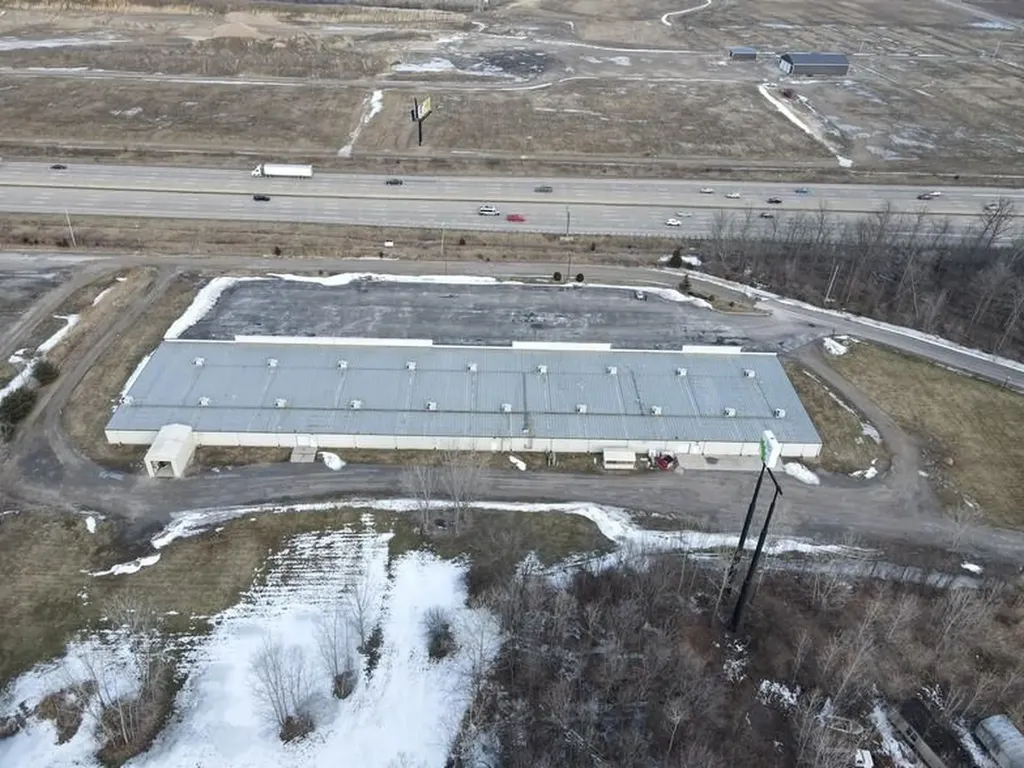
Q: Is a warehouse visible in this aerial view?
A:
Yes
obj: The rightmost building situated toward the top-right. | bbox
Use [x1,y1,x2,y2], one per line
[781,54,852,77]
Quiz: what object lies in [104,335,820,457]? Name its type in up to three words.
warehouse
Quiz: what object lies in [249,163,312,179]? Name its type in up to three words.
vehicle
